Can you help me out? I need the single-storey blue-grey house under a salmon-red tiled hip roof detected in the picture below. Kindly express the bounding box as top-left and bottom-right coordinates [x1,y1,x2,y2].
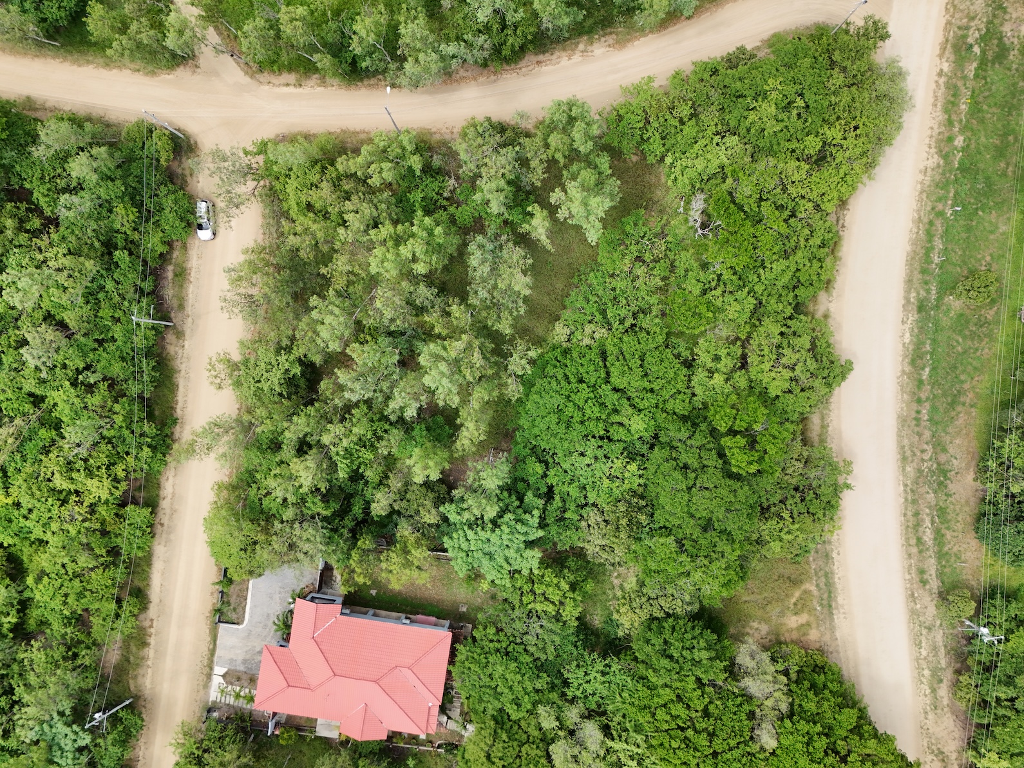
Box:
[256,586,452,741]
